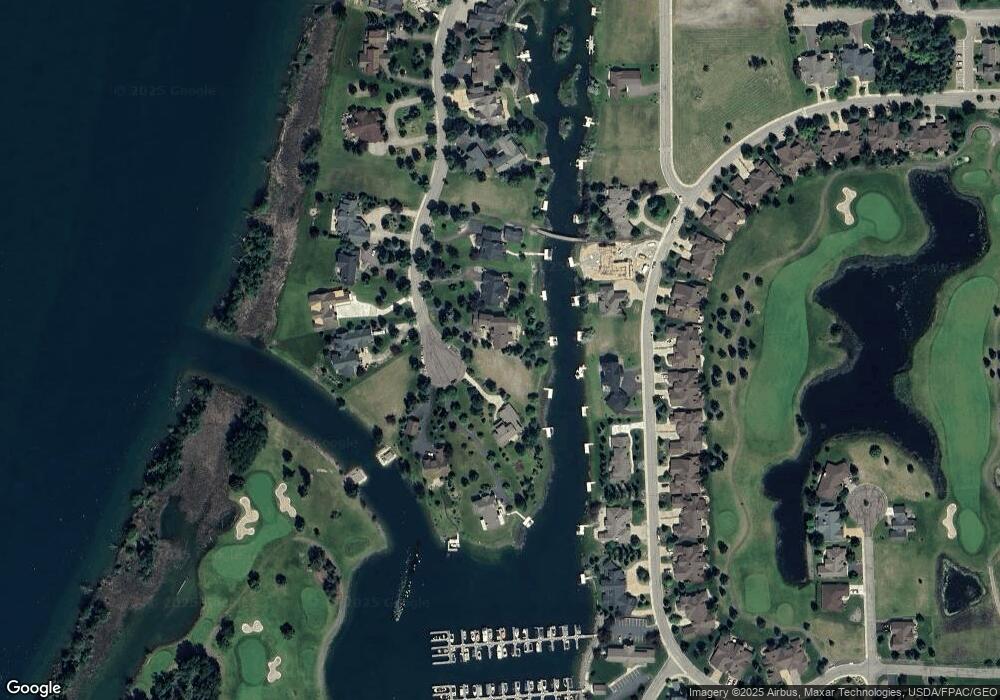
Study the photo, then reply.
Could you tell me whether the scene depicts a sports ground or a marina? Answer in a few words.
marina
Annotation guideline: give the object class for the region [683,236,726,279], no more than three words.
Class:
house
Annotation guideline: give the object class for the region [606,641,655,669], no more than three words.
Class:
building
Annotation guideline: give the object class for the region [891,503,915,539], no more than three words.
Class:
house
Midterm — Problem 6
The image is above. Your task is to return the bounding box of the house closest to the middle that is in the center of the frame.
[471,313,521,348]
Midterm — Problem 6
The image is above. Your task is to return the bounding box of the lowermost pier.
[433,678,588,700]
